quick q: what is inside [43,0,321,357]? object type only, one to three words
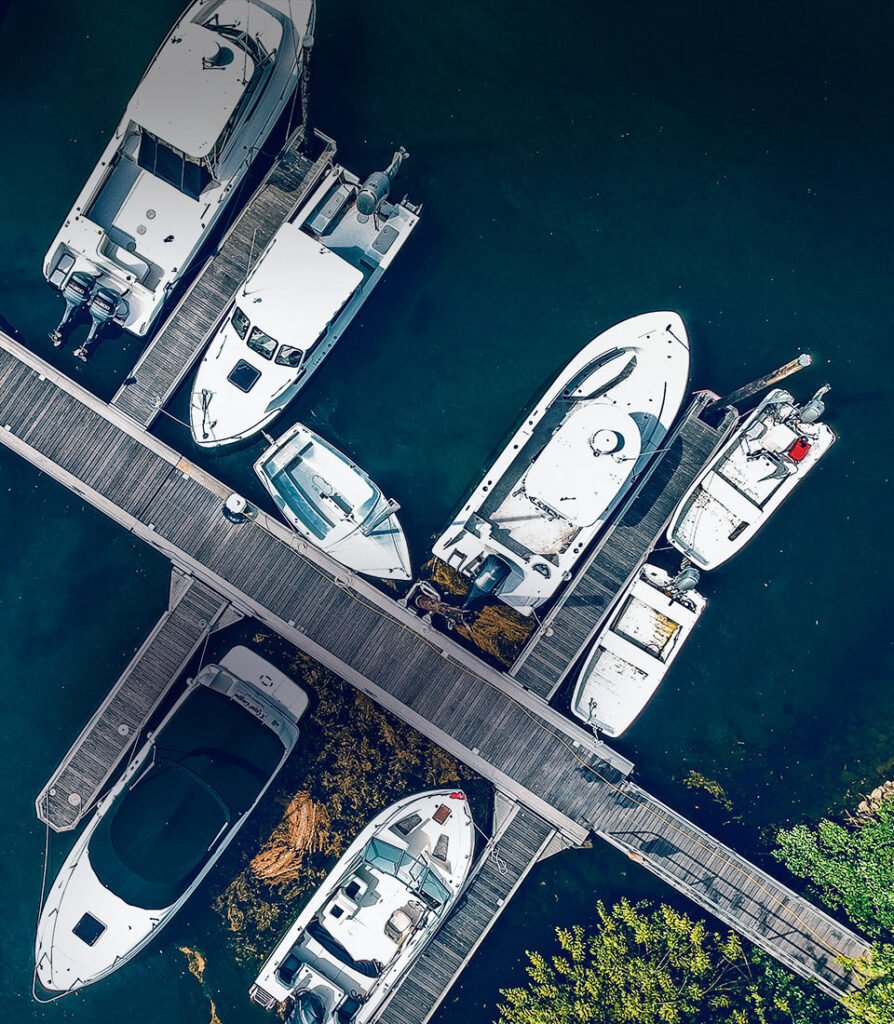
boat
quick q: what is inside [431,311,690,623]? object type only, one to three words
boat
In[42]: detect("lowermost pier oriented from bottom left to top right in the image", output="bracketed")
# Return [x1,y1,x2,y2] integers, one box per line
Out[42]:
[374,785,577,1024]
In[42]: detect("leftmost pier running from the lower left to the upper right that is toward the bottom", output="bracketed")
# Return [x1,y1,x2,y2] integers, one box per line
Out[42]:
[37,562,249,829]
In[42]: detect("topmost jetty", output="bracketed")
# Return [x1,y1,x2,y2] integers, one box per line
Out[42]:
[110,122,341,431]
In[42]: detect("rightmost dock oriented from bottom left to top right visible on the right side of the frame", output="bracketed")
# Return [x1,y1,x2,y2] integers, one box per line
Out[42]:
[508,387,746,702]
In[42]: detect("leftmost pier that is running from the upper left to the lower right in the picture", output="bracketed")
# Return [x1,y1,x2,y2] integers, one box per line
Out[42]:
[0,331,635,833]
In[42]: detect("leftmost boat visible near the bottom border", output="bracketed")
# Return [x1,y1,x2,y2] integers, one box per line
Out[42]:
[32,645,308,1004]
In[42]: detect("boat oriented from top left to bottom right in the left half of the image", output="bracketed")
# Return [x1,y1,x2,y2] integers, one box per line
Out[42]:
[253,422,412,581]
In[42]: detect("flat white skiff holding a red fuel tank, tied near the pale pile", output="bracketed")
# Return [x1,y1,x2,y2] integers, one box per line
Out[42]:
[663,381,838,571]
